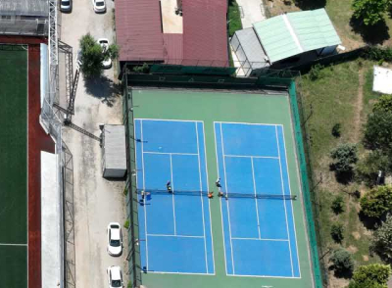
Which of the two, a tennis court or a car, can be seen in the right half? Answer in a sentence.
Looking in the right half, you will find a tennis court.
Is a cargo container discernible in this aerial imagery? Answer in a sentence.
Yes, there is a cargo container in the image.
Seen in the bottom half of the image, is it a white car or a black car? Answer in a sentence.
Visible in the bottom half of the image is a white car.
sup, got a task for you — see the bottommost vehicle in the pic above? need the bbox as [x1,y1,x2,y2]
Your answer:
[108,266,124,288]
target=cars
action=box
[59,0,72,13]
[108,266,124,288]
[98,41,113,68]
[92,0,106,14]
[107,225,123,256]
